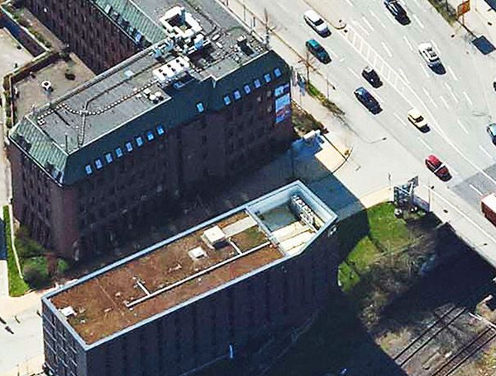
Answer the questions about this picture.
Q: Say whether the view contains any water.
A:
No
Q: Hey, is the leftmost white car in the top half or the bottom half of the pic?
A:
top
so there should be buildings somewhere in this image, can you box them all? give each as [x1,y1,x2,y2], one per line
[8,0,294,261]
[42,179,343,376]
